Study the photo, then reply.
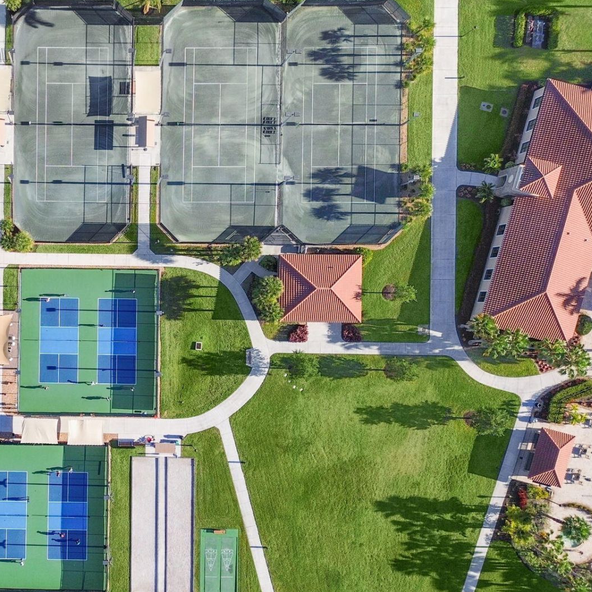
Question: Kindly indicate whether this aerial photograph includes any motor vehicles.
No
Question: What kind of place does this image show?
sports ground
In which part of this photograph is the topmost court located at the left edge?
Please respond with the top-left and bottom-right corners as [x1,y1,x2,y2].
[13,6,133,242]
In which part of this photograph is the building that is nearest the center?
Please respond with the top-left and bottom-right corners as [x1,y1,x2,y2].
[276,253,363,324]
